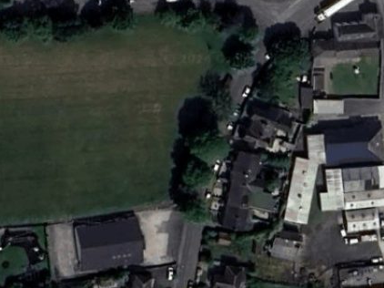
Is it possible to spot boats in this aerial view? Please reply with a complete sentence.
No, there's no boat here.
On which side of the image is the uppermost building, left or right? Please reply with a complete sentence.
It is on the right.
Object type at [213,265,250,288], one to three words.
house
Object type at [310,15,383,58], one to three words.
building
